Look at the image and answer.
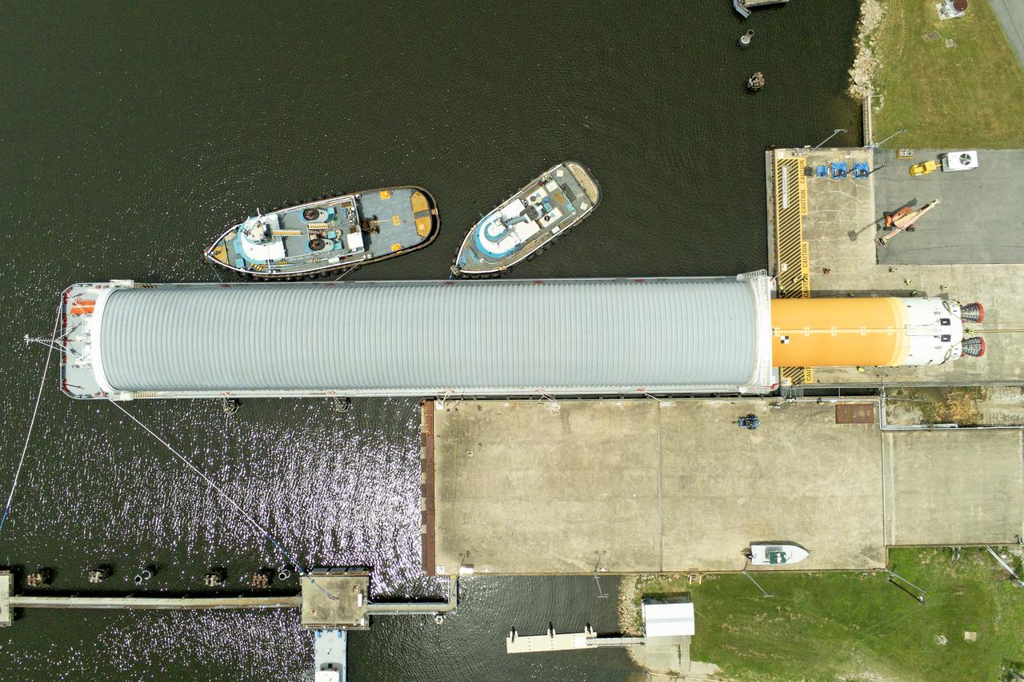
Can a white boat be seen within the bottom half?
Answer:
Yes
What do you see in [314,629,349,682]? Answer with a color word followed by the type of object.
white boat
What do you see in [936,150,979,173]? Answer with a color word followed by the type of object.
white trailer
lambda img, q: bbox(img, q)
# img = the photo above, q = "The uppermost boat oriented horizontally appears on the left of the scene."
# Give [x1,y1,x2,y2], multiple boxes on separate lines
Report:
[202,184,442,280]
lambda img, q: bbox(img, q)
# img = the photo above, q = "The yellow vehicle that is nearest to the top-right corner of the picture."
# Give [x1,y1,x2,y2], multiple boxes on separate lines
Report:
[909,158,939,176]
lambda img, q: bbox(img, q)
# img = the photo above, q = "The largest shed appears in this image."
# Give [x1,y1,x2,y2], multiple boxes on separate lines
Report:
[644,595,698,643]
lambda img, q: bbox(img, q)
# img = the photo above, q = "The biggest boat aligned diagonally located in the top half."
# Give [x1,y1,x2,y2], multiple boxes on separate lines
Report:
[449,159,603,279]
